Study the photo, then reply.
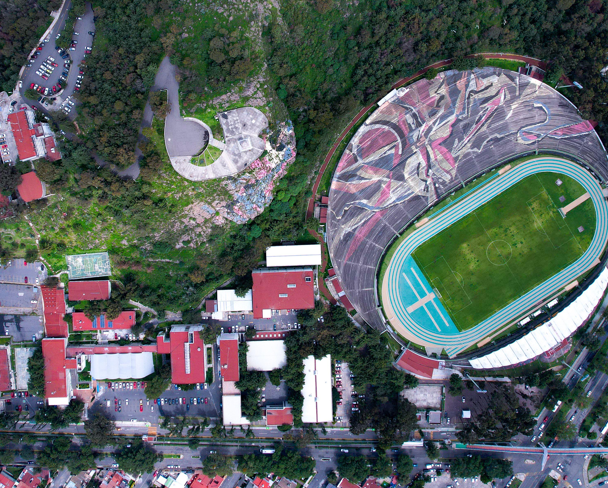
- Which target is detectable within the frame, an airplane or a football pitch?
football pitch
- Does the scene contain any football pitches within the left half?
No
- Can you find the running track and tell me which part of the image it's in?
right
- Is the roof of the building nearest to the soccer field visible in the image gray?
No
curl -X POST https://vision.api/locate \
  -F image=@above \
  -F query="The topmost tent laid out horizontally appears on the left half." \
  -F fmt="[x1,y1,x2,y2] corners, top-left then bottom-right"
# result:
[90,353,153,380]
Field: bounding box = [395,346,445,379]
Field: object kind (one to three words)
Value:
building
